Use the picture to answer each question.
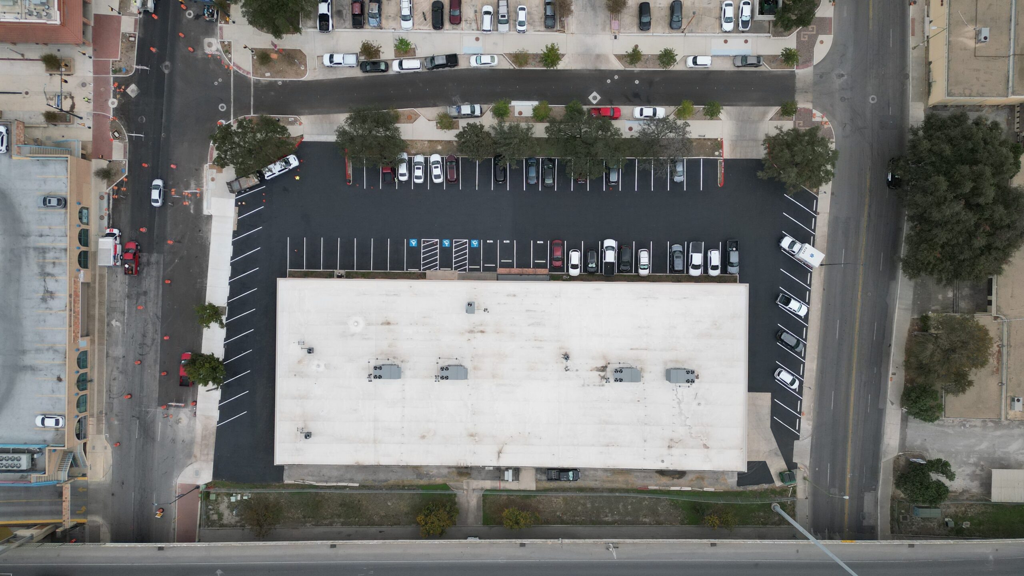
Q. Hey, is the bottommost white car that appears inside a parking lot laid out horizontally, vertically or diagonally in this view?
diagonally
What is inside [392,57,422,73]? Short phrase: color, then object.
white car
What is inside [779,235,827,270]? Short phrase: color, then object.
white van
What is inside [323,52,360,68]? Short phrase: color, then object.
white vehicle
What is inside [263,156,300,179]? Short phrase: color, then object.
white truck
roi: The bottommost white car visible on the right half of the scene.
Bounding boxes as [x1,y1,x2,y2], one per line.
[772,367,800,390]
